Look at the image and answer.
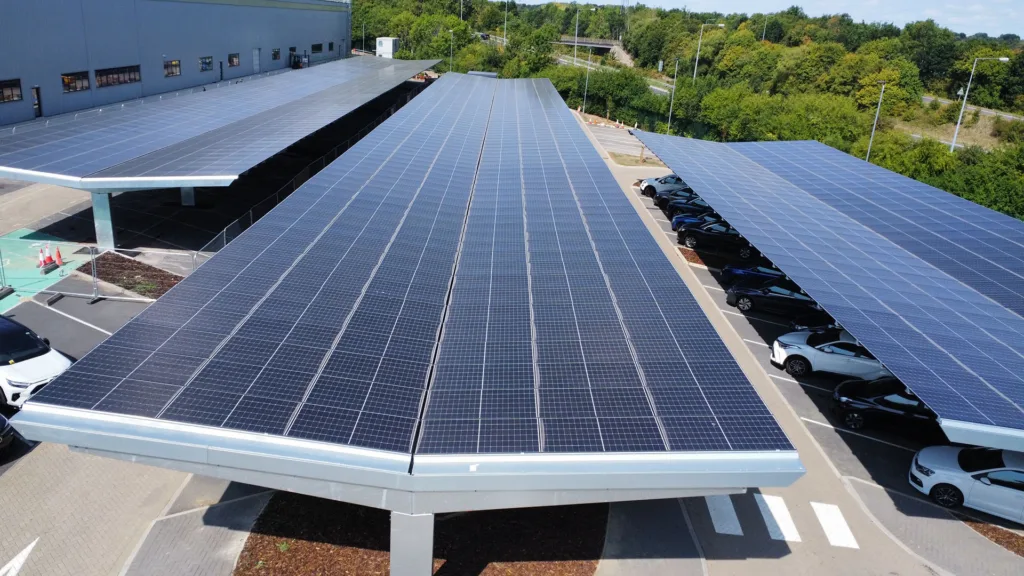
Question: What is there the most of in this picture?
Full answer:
The scene is dominated by buildings.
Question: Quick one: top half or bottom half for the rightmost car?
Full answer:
You can find the rightmost car in the bottom half.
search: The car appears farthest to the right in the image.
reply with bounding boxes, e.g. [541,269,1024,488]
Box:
[908,436,1024,519]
